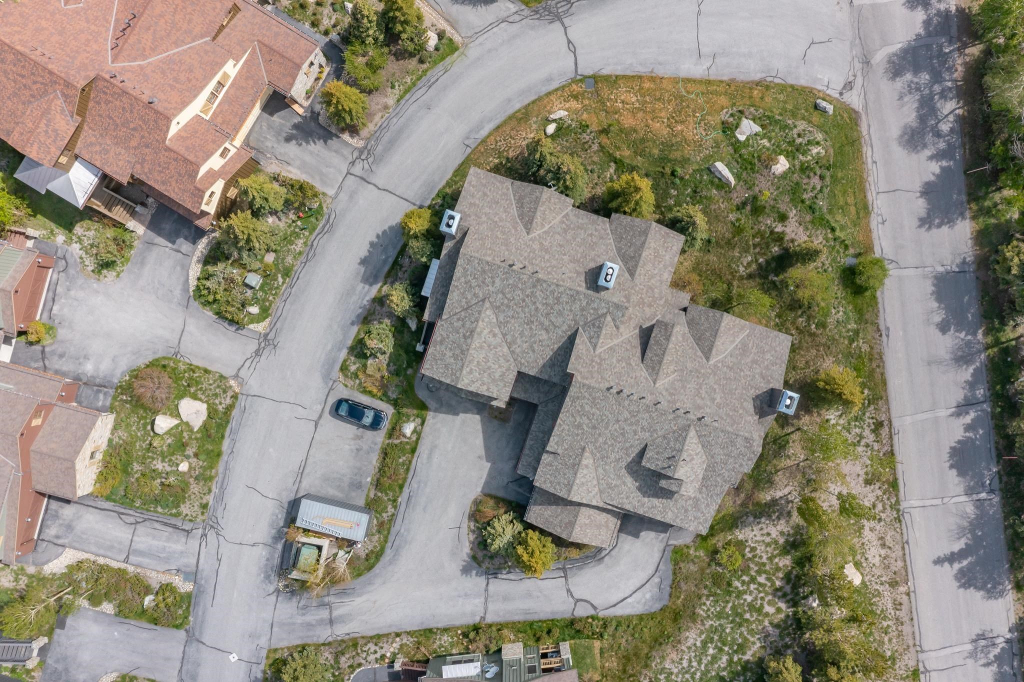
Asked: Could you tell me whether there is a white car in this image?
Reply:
No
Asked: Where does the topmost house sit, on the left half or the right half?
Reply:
left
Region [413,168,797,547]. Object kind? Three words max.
house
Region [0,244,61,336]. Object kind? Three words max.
house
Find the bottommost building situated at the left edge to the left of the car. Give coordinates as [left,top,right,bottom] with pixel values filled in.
[0,360,119,565]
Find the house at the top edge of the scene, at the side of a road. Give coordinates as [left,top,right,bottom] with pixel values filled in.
[0,0,331,234]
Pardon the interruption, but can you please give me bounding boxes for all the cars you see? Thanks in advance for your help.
[333,399,389,433]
